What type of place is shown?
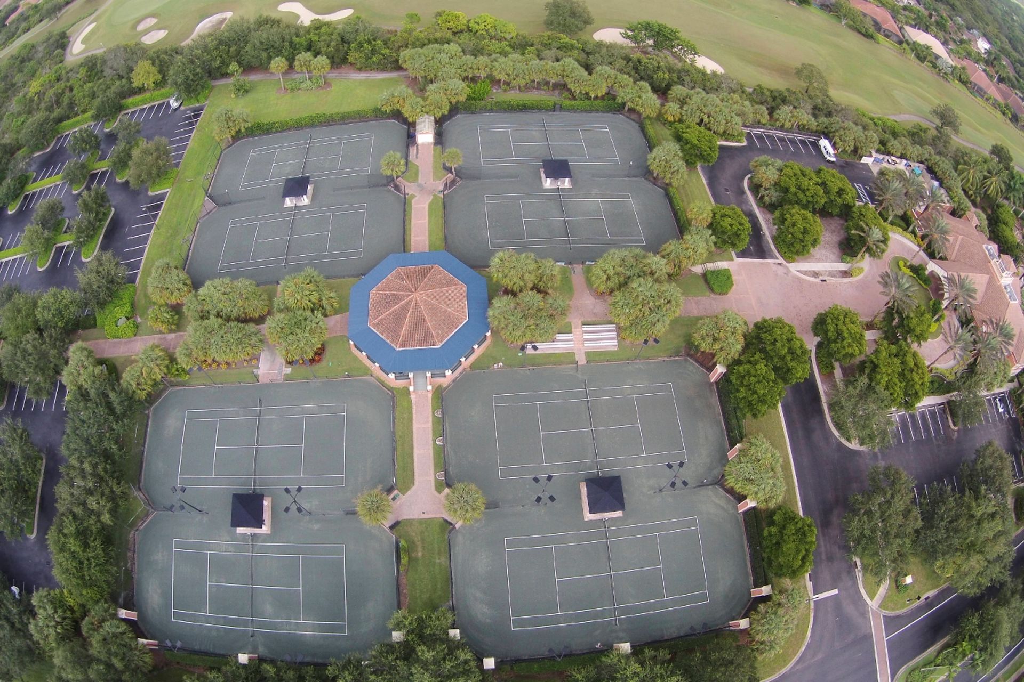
sports ground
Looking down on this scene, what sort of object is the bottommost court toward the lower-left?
tennis court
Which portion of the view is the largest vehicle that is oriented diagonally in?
top right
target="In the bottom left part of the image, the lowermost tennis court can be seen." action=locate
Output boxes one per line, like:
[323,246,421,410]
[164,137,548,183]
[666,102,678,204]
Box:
[133,512,400,663]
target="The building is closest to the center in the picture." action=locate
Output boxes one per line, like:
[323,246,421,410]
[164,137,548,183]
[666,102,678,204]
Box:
[346,251,495,397]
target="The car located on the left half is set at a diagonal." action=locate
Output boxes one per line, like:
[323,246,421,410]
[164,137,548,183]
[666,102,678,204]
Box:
[168,94,181,109]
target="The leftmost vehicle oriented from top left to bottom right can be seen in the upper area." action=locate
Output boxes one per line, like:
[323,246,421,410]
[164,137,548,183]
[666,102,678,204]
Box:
[818,134,838,158]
